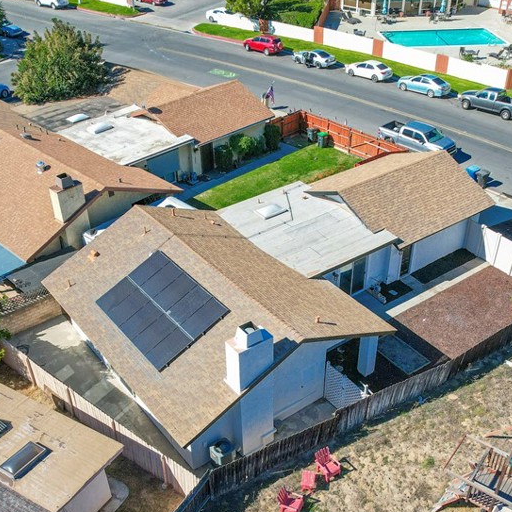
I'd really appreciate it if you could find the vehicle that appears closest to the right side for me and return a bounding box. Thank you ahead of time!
[457,85,512,120]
